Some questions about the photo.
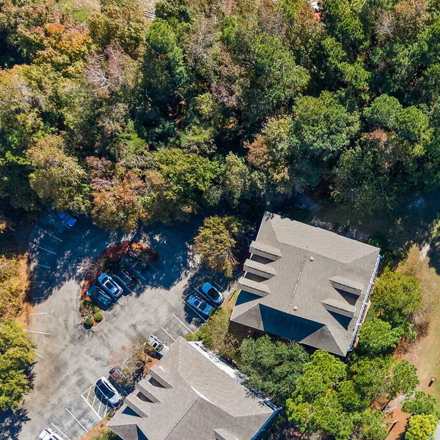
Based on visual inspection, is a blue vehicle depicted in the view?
Yes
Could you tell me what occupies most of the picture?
trees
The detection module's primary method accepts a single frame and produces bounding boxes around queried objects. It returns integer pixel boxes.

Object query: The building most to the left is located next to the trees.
[108,333,286,440]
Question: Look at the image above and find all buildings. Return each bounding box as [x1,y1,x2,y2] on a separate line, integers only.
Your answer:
[108,333,286,440]
[229,208,388,358]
